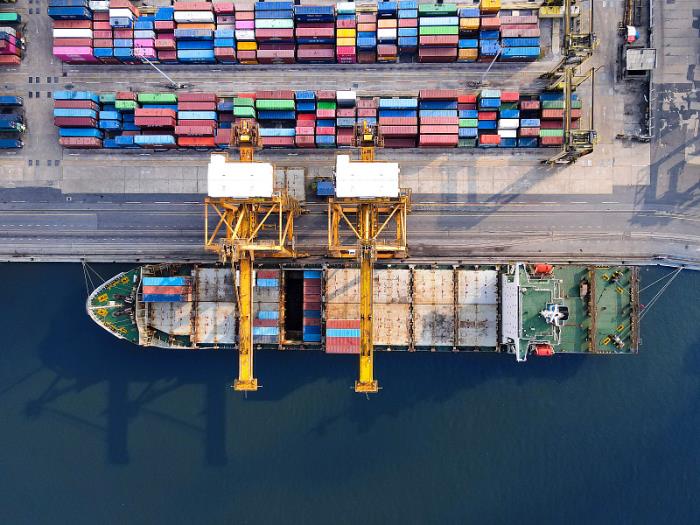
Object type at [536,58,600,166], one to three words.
crane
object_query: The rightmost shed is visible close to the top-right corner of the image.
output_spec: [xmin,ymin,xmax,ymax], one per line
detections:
[620,46,657,81]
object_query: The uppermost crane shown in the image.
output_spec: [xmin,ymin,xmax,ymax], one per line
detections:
[536,0,601,76]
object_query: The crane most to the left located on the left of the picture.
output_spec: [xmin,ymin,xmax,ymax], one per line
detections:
[205,117,307,401]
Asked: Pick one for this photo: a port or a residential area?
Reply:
port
